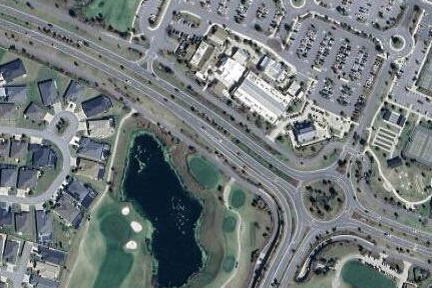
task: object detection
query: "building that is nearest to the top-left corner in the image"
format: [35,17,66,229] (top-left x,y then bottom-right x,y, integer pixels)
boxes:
[0,57,26,82]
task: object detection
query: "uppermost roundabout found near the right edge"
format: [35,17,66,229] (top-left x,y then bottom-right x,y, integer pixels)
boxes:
[383,28,411,57]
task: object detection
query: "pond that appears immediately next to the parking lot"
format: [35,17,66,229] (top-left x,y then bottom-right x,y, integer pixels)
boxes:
[124,132,202,288]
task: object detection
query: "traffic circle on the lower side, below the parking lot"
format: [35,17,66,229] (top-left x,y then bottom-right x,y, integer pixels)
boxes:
[292,168,355,231]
